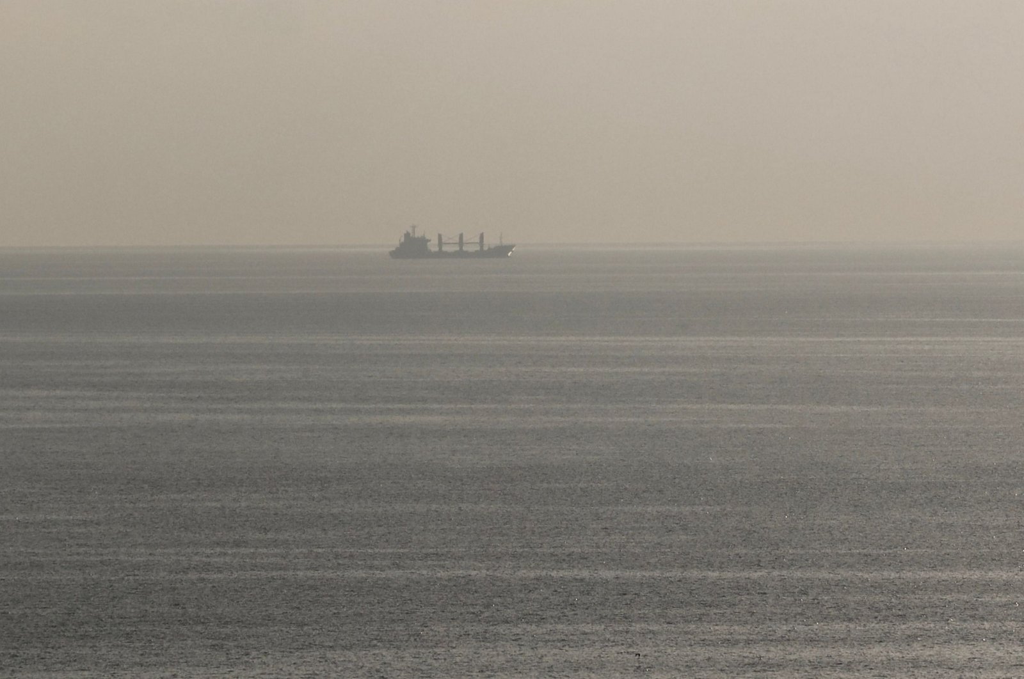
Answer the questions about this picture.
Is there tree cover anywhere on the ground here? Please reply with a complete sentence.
No, the picture contains no tree cover.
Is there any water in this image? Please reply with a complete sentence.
Yes, there is water in the image.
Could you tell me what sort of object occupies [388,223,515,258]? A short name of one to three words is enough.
ship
